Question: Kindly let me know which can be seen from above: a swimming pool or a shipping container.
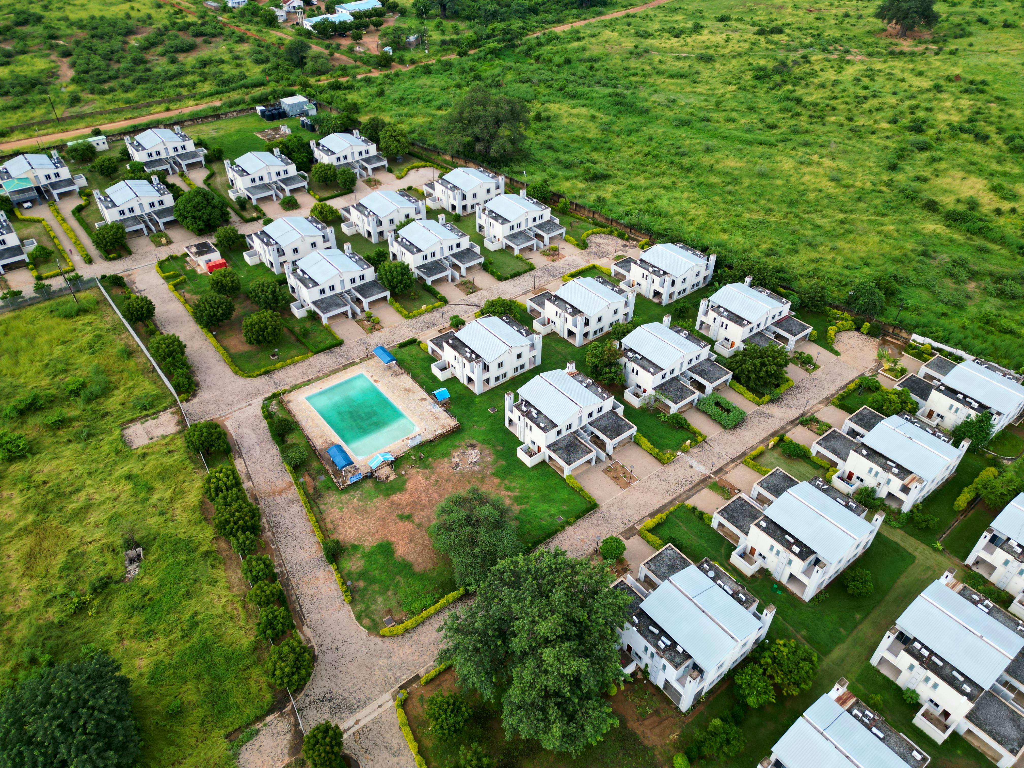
swimming pool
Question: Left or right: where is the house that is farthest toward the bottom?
right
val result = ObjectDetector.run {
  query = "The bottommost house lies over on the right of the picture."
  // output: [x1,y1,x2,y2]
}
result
[756,678,930,768]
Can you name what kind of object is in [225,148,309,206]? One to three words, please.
house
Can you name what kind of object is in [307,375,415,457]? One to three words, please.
swimming pool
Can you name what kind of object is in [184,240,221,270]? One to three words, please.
building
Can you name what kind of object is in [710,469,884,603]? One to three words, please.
house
